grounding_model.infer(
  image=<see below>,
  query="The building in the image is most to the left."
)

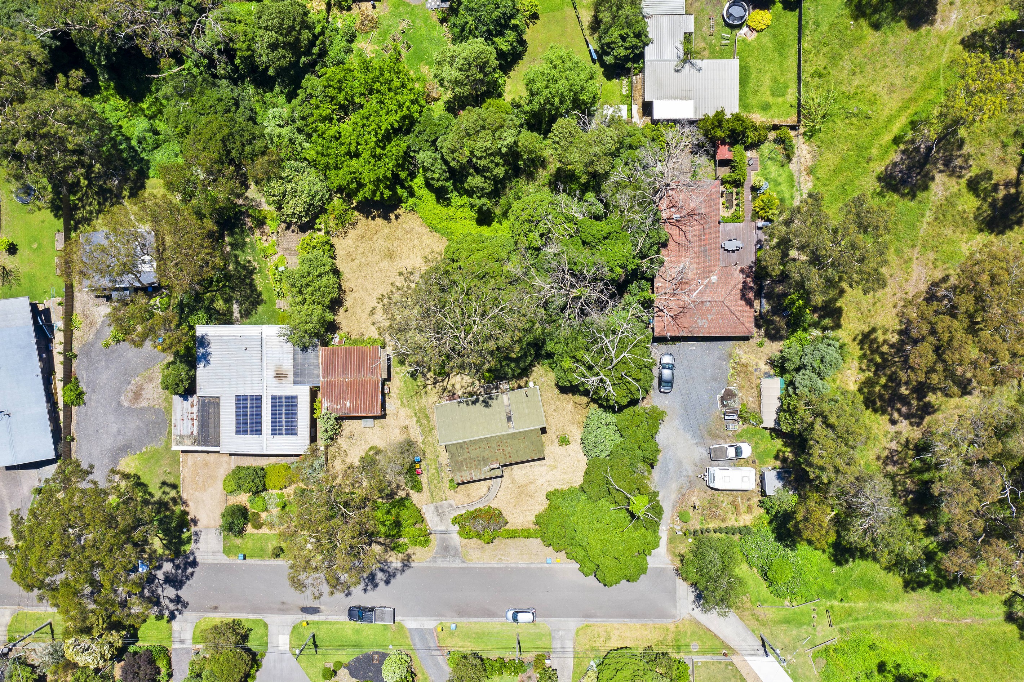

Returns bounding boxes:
[0,296,69,465]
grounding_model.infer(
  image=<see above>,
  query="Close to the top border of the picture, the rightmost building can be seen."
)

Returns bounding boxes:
[642,0,739,125]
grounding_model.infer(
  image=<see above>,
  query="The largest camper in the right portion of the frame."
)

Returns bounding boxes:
[689,464,756,490]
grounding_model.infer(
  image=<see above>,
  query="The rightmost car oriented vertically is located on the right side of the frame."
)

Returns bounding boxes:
[656,352,676,395]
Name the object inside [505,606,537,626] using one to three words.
car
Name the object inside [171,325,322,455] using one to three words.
house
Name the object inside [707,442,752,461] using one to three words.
vehicle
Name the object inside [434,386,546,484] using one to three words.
house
